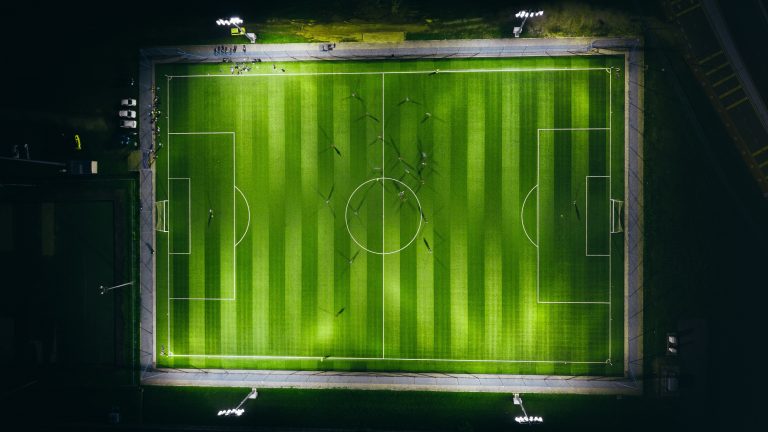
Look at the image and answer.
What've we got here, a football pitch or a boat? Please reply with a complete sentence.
There is a football pitch in the scene.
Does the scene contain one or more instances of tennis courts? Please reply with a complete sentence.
No, no tennis court is visible in the scene.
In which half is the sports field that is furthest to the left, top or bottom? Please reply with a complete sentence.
It is in the bottom half that the sports field that is furthest to the left appears.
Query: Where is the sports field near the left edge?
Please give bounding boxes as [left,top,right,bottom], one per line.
[0,185,124,381]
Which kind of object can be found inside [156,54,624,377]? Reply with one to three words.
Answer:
soccer field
